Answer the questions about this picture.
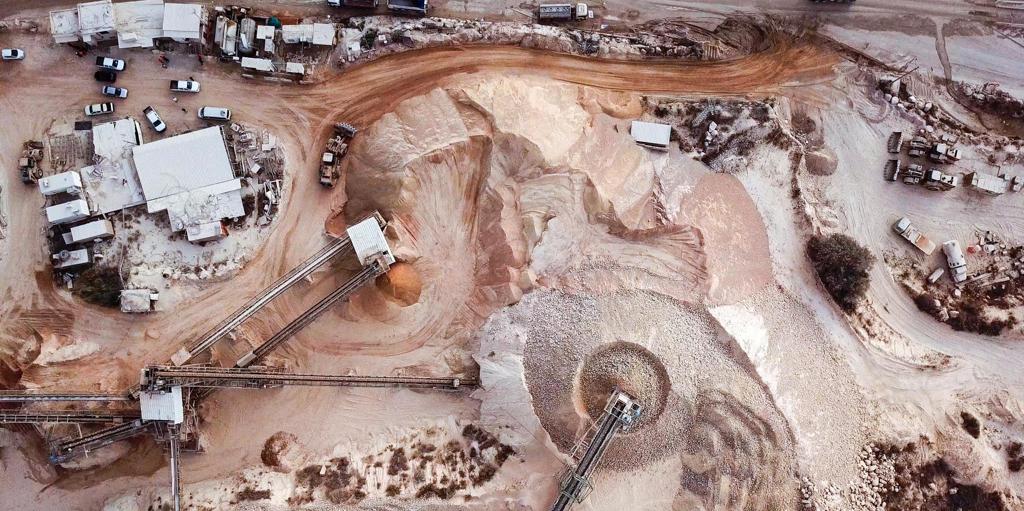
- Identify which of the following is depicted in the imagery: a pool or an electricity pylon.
electricity pylon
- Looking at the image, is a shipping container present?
Yes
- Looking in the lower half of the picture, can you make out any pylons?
No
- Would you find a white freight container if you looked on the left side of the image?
Yes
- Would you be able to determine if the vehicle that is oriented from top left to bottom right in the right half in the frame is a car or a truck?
truck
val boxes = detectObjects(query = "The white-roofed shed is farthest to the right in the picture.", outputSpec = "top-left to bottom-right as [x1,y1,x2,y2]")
[629,121,671,148]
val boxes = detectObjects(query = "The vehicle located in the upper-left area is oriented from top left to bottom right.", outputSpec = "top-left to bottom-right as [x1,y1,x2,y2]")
[139,103,166,134]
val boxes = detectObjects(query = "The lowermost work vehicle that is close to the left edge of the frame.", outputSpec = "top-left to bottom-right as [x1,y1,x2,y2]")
[9,138,37,189]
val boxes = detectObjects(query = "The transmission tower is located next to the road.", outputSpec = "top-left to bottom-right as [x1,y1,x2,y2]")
[687,86,721,130]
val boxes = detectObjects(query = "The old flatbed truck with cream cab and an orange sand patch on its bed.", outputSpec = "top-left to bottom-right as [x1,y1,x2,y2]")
[894,212,949,261]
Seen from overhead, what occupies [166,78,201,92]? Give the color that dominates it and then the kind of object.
white vehicle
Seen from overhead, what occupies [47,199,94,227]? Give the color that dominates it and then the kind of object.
white shipping container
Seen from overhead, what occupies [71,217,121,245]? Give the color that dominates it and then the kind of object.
white shipping container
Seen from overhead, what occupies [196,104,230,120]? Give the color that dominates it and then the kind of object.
white vehicle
